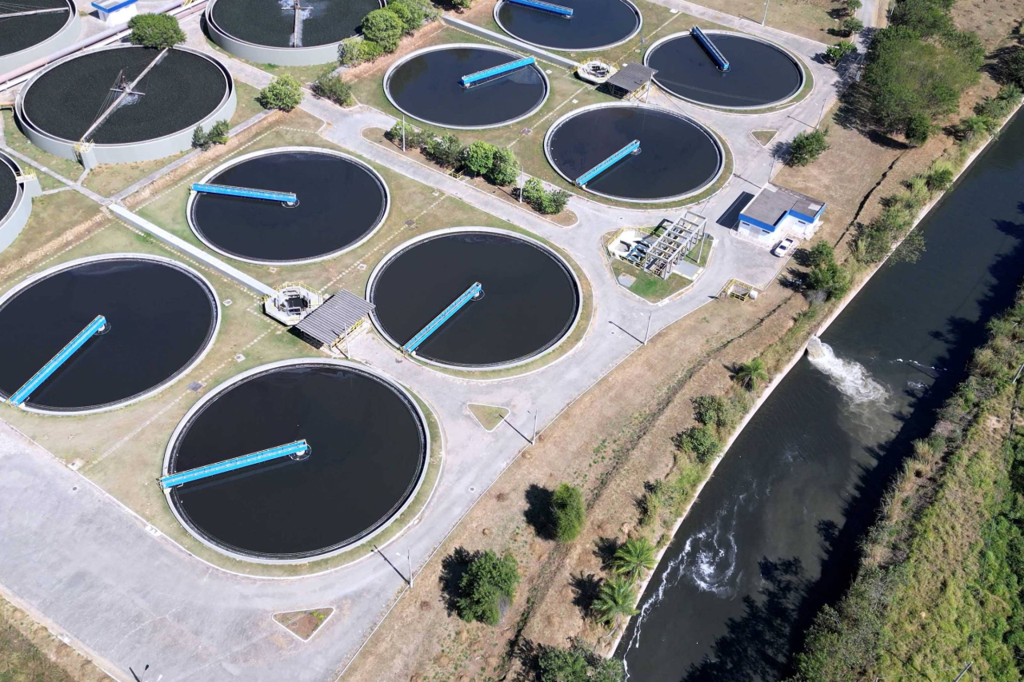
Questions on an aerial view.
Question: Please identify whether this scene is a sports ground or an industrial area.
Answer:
industrial area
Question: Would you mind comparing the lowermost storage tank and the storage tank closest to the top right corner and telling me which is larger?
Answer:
the lowermost storage tank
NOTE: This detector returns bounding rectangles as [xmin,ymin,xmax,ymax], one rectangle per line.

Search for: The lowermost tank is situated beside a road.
[155,359,428,564]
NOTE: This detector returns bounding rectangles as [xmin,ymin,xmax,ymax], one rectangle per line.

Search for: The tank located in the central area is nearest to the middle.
[365,226,583,372]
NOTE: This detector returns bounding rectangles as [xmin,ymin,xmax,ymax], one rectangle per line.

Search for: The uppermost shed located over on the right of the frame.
[607,62,658,108]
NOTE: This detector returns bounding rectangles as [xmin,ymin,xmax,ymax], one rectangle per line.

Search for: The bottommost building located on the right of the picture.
[737,181,825,245]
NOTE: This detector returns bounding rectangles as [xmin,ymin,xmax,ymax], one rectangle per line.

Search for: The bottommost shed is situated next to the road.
[296,288,376,361]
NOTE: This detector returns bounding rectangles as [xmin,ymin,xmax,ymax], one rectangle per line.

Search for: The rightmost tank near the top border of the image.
[645,24,805,111]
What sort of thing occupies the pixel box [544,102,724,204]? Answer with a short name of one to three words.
storage tank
